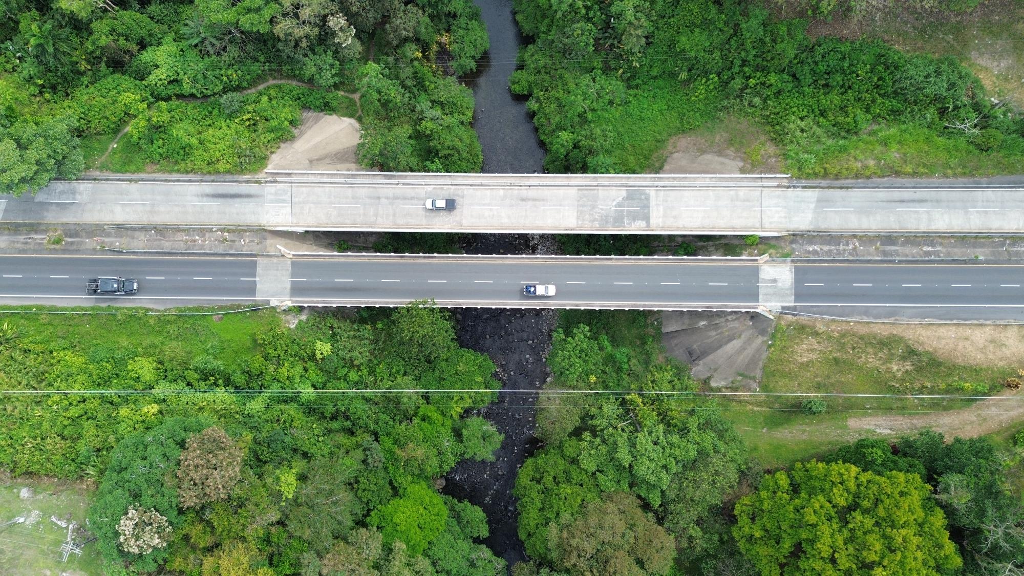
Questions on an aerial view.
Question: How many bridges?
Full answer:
Altogether the scene contains 2 bridges.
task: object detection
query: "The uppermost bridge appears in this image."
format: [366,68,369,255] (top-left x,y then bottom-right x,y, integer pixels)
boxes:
[263,170,794,237]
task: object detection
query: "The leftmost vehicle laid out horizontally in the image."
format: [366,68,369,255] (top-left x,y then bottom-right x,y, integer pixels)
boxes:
[86,277,140,295]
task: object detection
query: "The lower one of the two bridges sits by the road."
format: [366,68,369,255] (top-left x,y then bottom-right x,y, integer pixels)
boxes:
[256,245,794,320]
